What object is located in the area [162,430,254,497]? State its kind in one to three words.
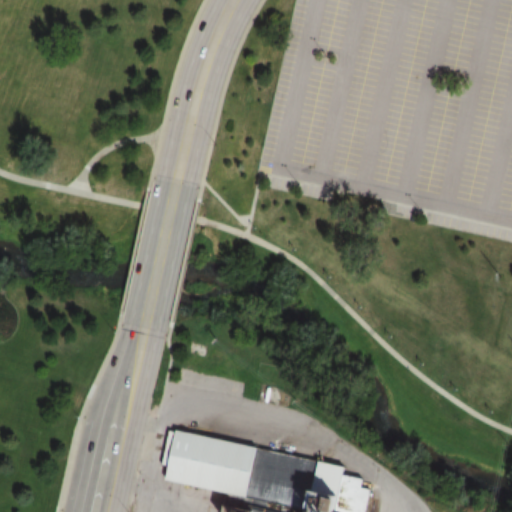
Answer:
building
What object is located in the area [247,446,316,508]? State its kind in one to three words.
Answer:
building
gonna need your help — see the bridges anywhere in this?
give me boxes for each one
[118,176,206,338]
